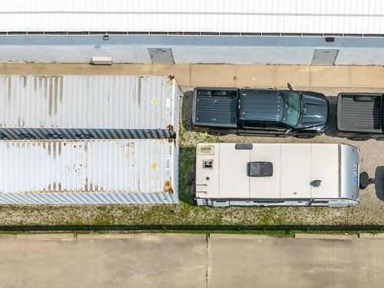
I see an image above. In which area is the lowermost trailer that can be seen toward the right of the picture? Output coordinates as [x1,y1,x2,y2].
[192,142,380,208]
